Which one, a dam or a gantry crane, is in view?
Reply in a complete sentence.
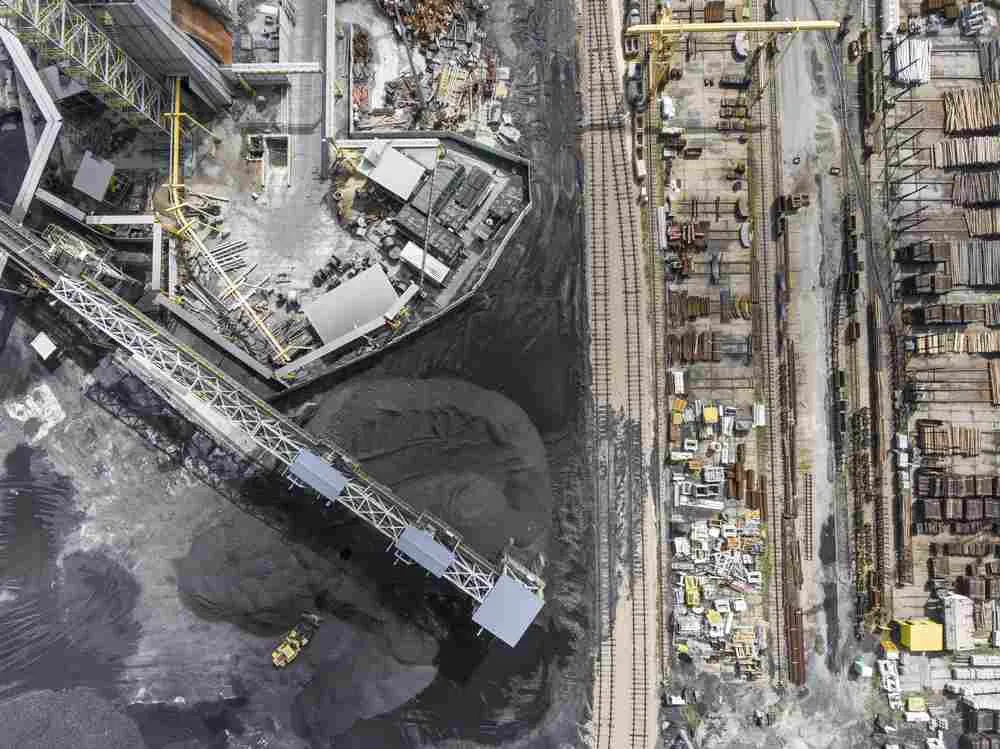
I can see a gantry crane in this picture.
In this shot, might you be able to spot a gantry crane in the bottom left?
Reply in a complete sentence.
No, the scene shows no gantry crane in the bottom left.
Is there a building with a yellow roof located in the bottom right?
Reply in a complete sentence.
Yes, I can see a building with a yellow roof in the bottom right.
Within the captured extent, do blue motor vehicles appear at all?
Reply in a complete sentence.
No, the photo shows no blue motor vehicle.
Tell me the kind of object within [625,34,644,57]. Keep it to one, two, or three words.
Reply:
vehicle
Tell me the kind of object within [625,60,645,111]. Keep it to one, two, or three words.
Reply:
vehicle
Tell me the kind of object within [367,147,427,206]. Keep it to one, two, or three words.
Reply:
shed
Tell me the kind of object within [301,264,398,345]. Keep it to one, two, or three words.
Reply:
building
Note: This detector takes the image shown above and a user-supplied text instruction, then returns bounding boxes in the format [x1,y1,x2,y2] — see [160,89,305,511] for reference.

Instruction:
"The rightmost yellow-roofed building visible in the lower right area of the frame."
[900,618,943,651]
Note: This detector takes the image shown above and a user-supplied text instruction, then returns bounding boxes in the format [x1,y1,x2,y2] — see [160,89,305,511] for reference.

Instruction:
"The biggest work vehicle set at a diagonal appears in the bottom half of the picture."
[271,614,318,669]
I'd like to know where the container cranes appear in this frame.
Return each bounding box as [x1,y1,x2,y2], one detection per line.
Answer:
[621,18,845,98]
